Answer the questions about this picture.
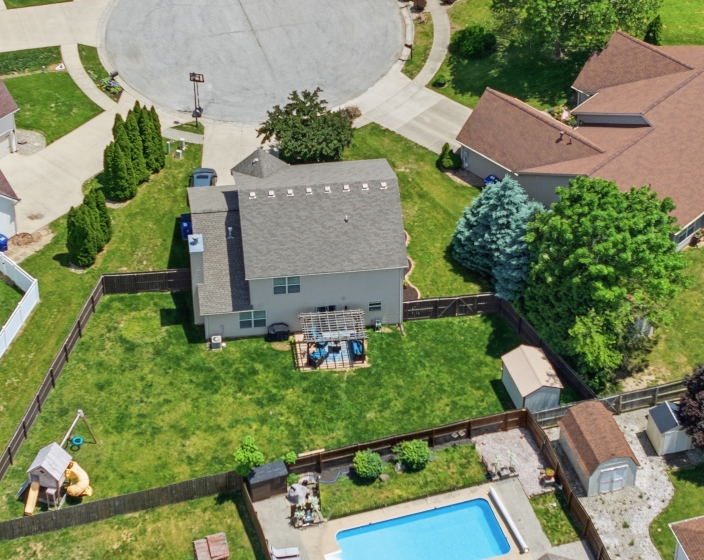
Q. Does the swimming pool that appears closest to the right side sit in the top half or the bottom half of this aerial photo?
bottom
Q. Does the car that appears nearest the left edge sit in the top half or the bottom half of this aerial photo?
top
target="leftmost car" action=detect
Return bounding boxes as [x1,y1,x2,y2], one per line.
[186,166,218,212]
